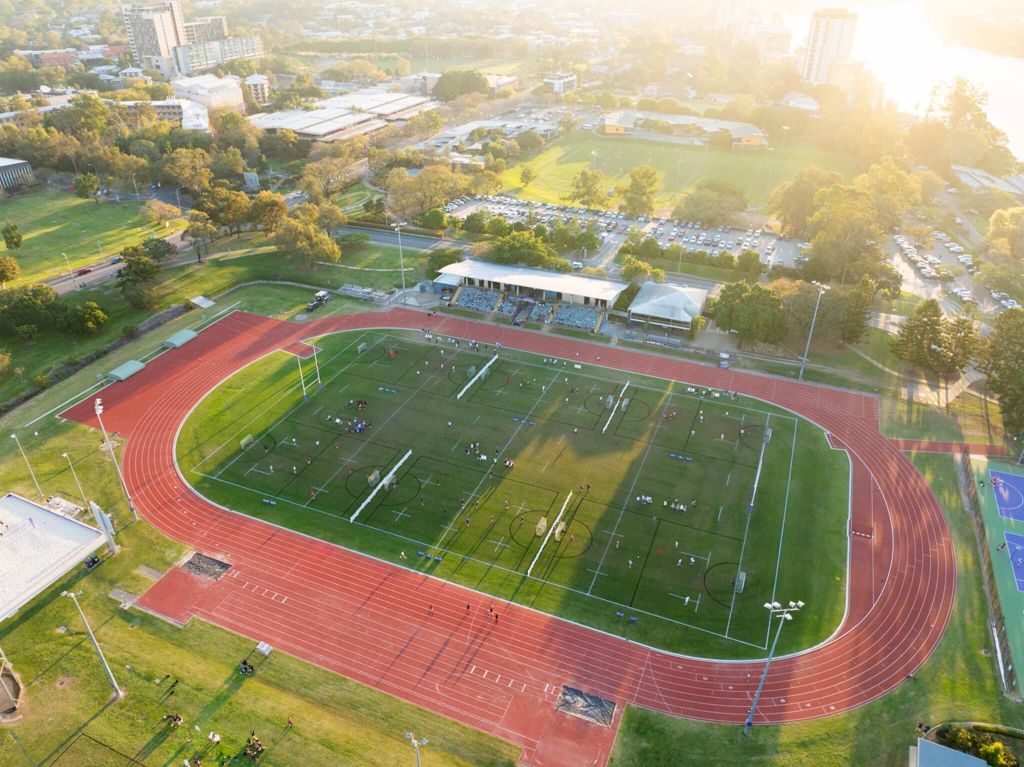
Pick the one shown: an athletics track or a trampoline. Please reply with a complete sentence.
Visible in the photo is an athletics track.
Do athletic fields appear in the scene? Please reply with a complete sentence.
Yes, this view includes an athletic field.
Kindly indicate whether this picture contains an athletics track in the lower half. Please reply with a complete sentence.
Yes, the scene does show an athletics track in the lower half.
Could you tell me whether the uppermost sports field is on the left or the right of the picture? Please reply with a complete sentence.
It is on the right.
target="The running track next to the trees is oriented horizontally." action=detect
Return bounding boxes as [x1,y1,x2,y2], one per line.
[122,312,958,724]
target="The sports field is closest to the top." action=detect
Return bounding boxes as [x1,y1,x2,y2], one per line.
[500,131,850,215]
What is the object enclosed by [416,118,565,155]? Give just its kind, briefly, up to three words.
building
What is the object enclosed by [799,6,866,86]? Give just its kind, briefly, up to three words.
building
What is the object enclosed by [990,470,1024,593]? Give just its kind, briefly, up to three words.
sports court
